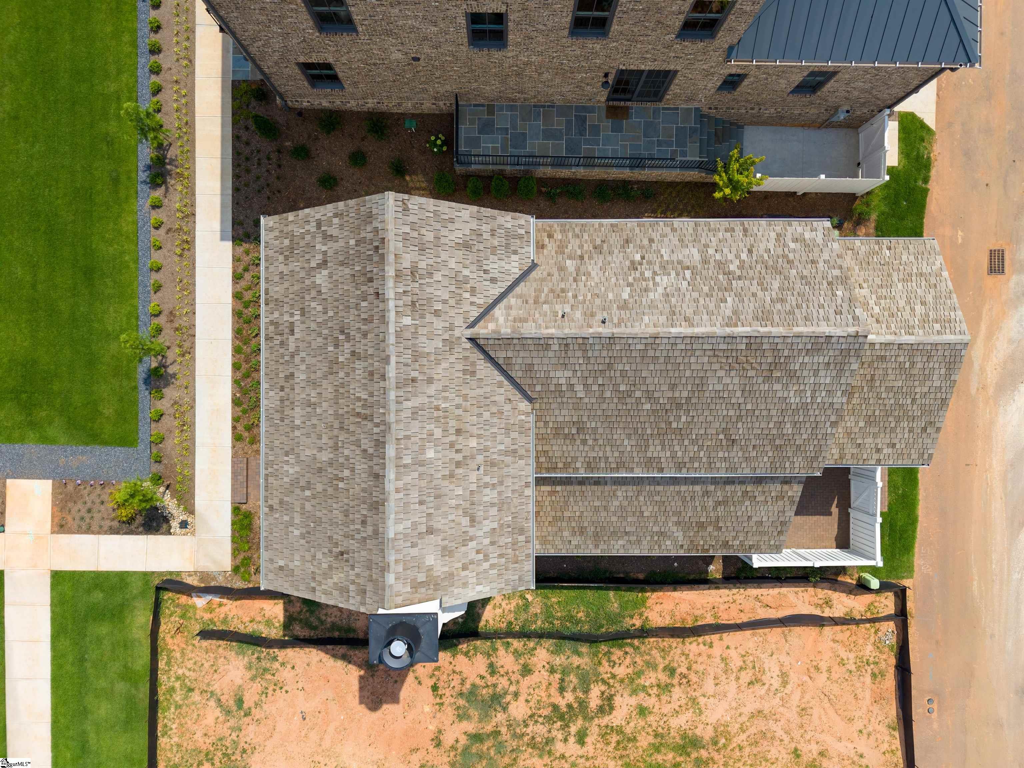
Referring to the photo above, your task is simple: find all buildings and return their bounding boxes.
[201,0,983,131]
[257,190,975,671]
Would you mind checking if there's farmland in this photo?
No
